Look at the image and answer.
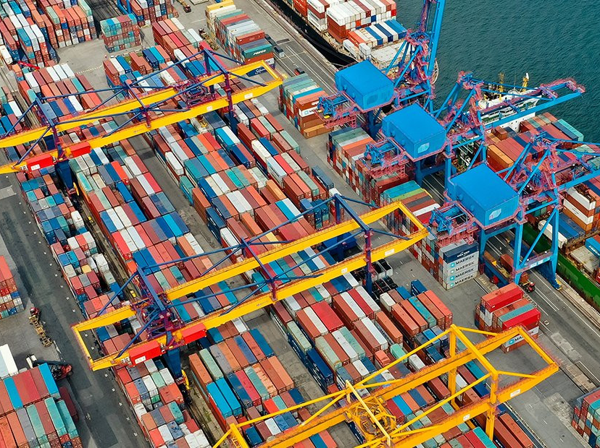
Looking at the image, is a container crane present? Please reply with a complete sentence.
Yes, a container crane appears in the view.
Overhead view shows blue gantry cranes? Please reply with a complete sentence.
Yes, there is a blue gantry crane in the image.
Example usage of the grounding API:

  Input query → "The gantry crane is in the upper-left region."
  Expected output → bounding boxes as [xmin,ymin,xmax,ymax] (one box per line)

[0,48,286,193]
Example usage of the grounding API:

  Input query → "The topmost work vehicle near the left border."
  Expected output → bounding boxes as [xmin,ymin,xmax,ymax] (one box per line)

[15,52,43,69]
